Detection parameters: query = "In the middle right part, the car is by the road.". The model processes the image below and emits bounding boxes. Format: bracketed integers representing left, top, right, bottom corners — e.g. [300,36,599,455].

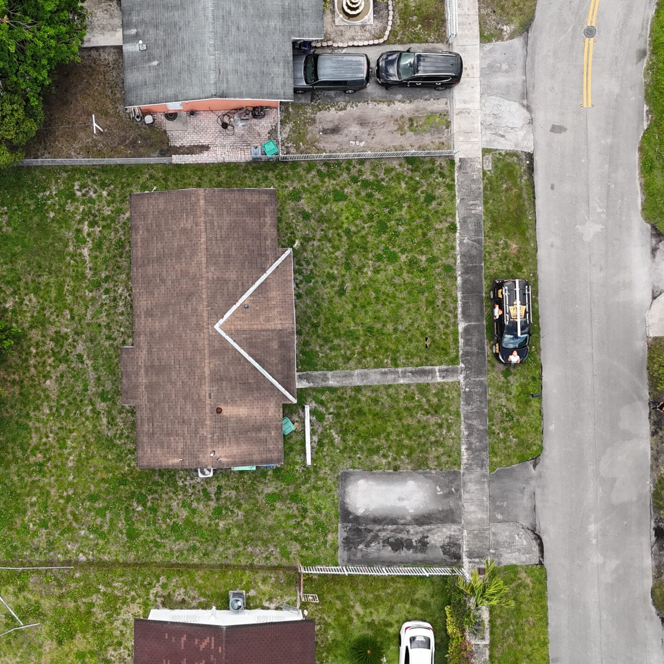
[493,280,539,363]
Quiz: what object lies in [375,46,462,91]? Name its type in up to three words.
car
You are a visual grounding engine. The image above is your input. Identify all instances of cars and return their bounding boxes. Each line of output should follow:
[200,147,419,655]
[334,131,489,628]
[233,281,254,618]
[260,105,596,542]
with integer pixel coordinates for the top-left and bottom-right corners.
[402,625,436,664]
[375,46,462,91]
[493,280,539,363]
[293,49,370,91]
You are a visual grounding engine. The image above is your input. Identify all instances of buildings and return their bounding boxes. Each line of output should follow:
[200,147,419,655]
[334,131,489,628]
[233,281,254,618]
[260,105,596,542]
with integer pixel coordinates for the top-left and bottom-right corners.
[122,0,324,114]
[133,611,315,664]
[120,187,297,469]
